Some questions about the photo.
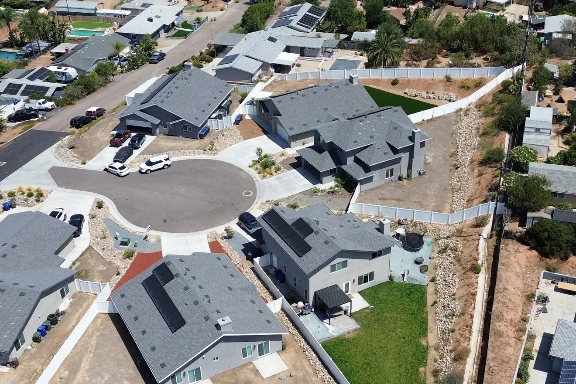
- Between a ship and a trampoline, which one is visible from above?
trampoline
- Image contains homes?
Yes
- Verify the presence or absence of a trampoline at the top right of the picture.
No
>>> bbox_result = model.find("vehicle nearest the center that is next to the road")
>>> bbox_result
[234,206,262,234]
